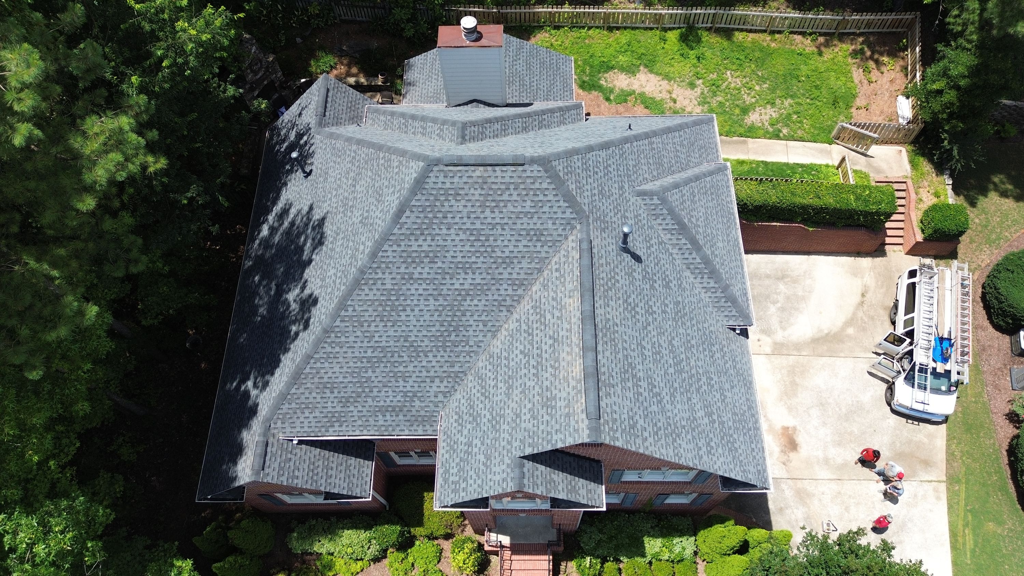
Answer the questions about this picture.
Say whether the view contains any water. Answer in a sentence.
No, the scene doesn't show any water.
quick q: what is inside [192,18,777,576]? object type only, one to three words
house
